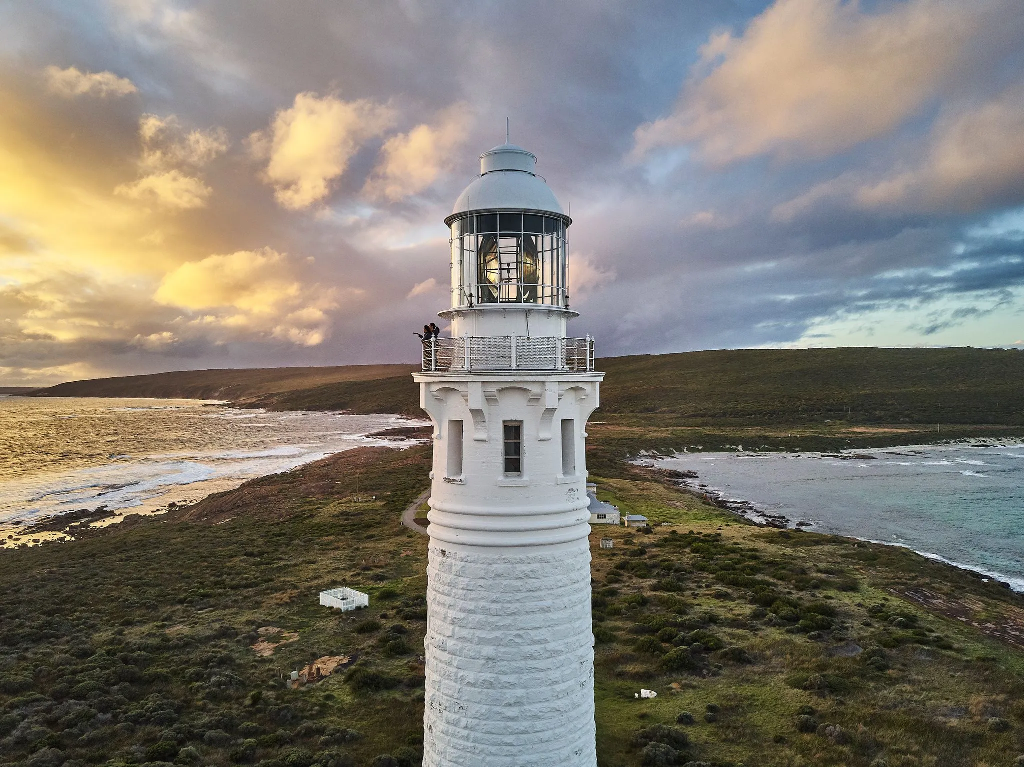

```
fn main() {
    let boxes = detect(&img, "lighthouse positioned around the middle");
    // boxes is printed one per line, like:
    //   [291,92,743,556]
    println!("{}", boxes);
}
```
[411,116,607,767]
